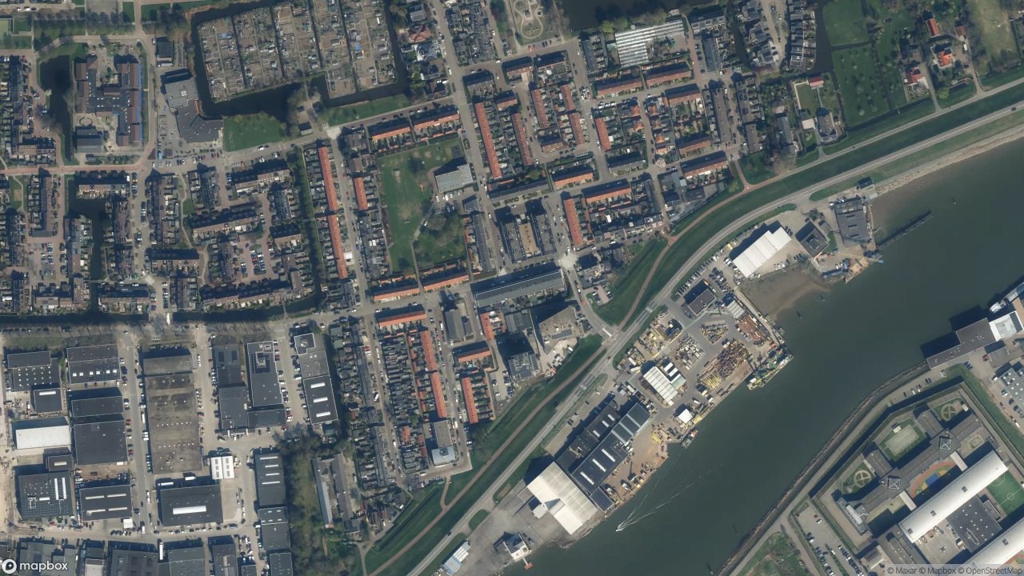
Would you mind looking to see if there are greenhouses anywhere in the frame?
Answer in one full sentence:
Yes, a greenhouse is visible in the scene.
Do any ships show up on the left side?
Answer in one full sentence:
No, there is no ship on the left side.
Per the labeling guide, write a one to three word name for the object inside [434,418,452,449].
building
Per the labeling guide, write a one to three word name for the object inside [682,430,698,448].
boat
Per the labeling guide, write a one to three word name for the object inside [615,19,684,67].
greenhouse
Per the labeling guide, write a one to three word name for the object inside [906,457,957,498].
sports court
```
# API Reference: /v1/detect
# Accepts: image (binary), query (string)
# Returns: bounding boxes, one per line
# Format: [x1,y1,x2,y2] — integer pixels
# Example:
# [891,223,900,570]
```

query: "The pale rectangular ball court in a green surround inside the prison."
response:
[879,419,926,462]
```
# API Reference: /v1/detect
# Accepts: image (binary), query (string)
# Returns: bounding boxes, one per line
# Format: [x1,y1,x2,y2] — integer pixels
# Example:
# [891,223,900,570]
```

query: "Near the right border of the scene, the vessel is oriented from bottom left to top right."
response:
[989,283,1024,313]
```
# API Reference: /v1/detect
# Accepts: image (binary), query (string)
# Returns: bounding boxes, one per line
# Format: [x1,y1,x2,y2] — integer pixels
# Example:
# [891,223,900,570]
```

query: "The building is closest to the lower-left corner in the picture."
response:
[19,543,56,576]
